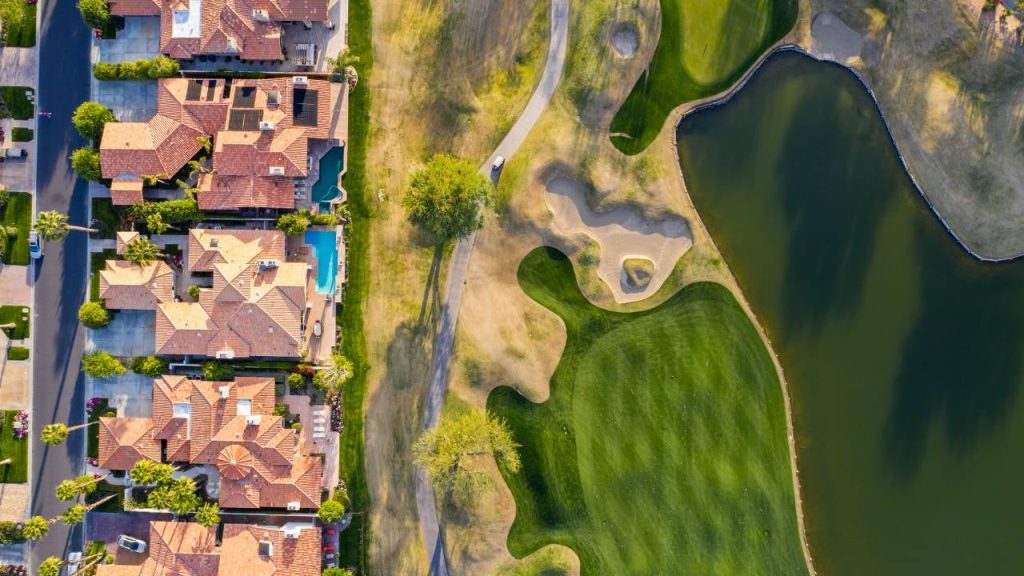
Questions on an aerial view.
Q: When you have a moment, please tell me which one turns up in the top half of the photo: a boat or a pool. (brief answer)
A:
pool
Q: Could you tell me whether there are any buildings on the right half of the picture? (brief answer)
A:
No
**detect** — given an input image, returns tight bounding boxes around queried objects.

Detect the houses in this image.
[109,0,330,63]
[99,374,323,510]
[96,518,324,576]
[99,229,310,359]
[100,76,332,209]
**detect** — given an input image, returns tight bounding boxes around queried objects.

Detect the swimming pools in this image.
[311,145,345,213]
[304,229,338,295]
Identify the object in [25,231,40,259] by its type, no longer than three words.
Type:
car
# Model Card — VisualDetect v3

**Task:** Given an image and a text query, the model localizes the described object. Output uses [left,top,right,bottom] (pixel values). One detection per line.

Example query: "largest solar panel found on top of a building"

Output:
[292,88,319,127]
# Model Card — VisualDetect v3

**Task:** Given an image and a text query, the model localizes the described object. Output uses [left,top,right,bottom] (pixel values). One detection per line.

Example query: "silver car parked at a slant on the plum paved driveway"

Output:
[116,536,144,555]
